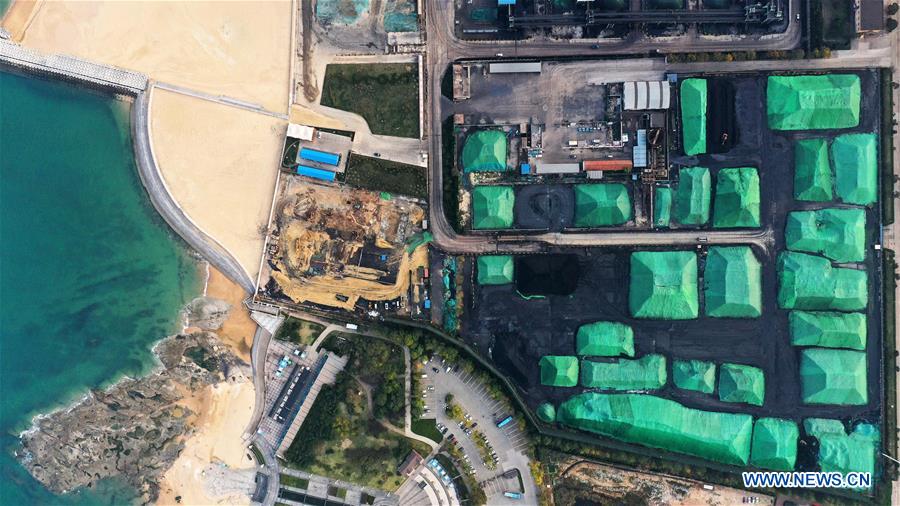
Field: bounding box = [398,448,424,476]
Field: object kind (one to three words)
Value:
house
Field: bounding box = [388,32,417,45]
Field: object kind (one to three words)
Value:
building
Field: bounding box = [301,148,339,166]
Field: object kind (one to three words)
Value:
shed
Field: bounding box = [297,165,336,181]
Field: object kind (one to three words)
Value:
shed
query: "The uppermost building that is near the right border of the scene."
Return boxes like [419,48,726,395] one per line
[853,0,883,34]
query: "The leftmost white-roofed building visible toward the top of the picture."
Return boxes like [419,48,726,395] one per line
[287,124,315,141]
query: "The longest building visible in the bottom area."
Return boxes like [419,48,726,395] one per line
[276,353,350,454]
